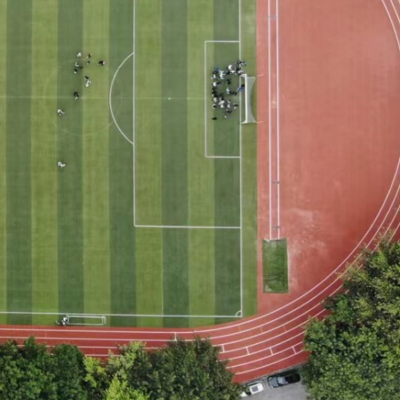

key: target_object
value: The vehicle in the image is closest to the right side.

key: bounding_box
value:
[269,371,300,388]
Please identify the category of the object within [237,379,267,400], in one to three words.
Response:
car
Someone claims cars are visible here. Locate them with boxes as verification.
[269,371,300,388]
[237,379,267,400]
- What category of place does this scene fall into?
sports ground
